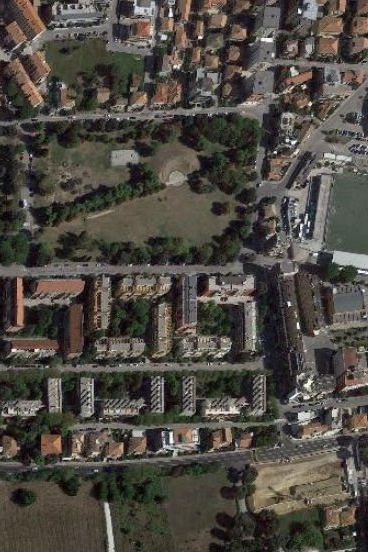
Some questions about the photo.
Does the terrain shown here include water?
No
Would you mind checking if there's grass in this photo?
Yes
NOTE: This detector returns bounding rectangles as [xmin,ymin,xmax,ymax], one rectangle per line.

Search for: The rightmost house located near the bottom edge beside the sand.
[340,504,355,529]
